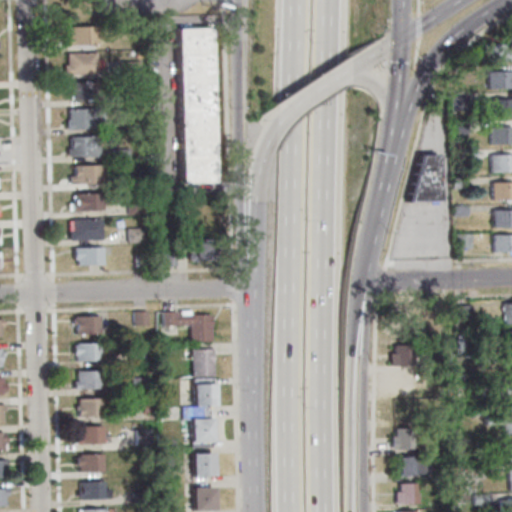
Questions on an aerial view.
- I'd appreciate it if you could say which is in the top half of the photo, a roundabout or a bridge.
bridge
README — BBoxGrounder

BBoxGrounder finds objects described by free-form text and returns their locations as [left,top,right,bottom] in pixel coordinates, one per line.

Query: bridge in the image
[256,36,384,151]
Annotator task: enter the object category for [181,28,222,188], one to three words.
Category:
building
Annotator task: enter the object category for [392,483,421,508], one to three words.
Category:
house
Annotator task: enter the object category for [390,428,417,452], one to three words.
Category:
house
